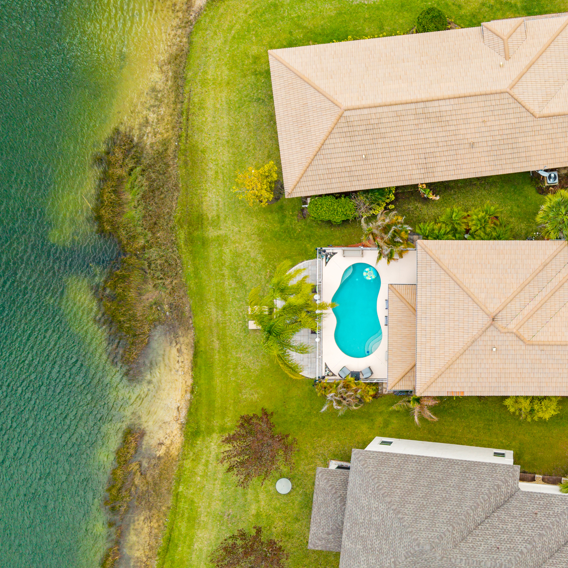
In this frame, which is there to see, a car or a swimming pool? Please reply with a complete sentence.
There is a swimming pool in the scene.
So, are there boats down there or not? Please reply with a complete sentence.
No, there appears to be no boat in this shot.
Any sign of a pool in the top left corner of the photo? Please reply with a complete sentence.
No, the scene shows no pool in the top left corner of the photo.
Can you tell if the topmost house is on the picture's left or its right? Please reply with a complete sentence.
It is on the right.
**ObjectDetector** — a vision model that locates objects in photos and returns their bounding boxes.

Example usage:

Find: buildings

[307,438,568,568]
[267,15,568,199]
[386,238,568,398]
